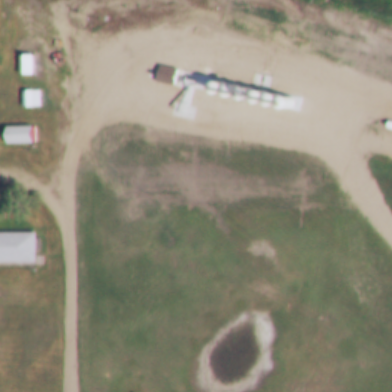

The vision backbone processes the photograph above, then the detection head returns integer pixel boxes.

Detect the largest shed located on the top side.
[3,125,38,148]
